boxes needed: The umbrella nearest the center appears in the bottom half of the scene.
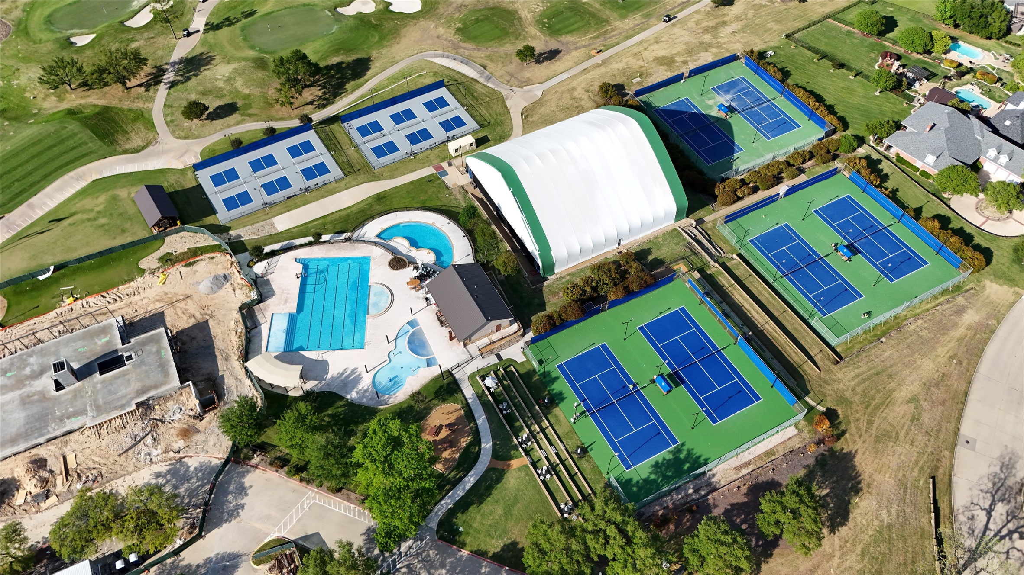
[483,369,499,384]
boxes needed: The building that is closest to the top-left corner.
[134,184,181,232]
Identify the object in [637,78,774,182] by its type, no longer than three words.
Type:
tennis court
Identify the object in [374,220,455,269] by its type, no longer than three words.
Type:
swimming pool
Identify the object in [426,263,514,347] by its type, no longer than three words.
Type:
building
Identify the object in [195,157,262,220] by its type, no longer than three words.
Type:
sports court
